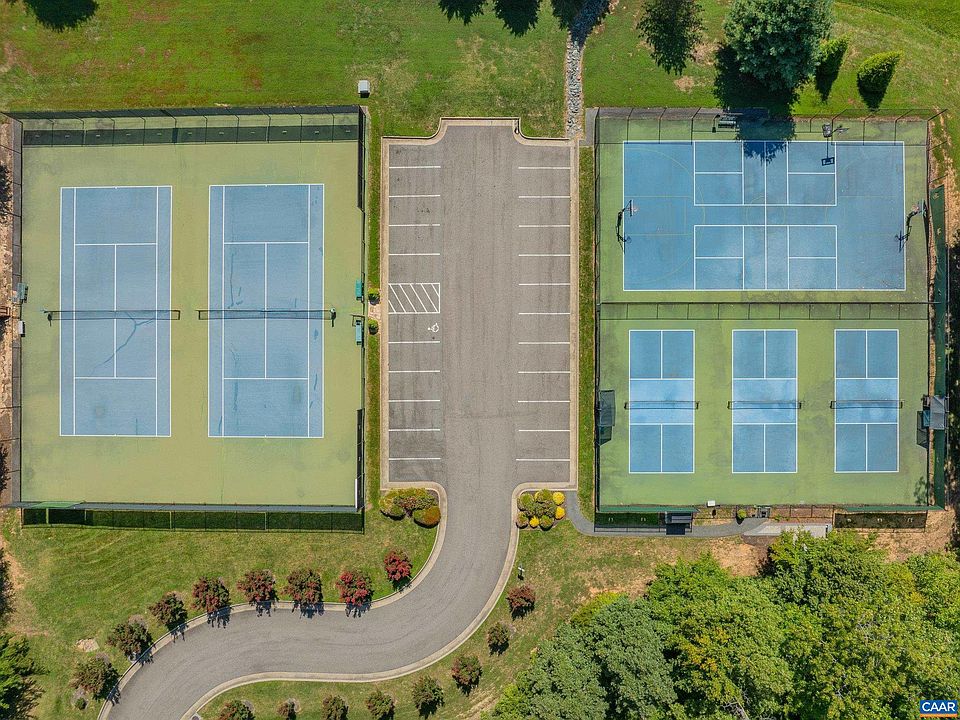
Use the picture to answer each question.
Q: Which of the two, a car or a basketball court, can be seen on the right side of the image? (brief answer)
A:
basketball court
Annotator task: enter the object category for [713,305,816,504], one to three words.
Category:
sports court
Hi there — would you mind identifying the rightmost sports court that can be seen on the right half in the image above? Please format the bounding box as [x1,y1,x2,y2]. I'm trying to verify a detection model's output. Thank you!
[816,305,929,504]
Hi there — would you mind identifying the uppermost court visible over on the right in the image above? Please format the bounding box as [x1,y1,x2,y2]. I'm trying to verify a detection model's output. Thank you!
[599,119,929,304]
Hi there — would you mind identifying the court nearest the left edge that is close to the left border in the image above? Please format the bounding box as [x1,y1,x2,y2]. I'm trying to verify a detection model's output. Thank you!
[21,117,190,504]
